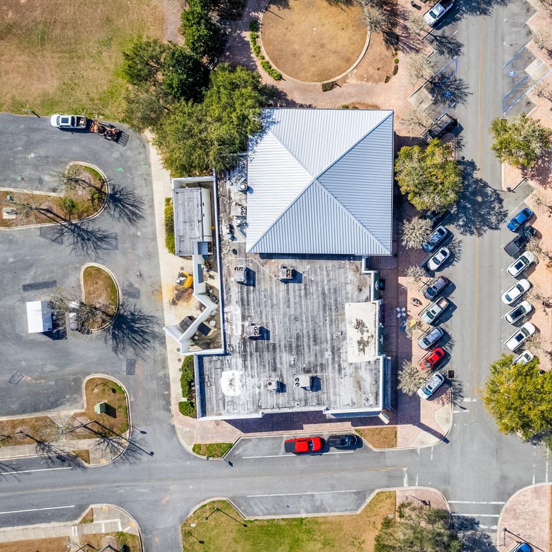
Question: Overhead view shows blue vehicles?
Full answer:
Yes, the picture does show a blue vehicle.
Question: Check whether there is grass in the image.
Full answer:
Yes, grass shows up in the scene.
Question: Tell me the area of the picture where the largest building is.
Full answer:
The largest building is located in the center region of the scene.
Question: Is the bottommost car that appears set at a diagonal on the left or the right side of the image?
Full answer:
The bottommost car that appears set at a diagonal sits on the right side.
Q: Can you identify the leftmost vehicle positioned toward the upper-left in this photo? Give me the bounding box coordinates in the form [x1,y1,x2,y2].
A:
[50,113,87,129]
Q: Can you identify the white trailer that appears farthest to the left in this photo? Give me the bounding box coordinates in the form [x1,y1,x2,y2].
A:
[27,292,54,333]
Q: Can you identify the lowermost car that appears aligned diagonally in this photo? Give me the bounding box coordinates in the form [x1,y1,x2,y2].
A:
[420,372,446,400]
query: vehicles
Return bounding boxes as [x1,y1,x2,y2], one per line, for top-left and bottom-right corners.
[505,323,534,352]
[326,434,361,449]
[420,296,452,326]
[50,113,87,129]
[421,346,446,371]
[420,204,447,229]
[512,543,532,552]
[417,325,446,351]
[69,301,84,332]
[422,274,450,301]
[421,112,459,145]
[507,251,534,278]
[284,437,324,454]
[426,246,453,273]
[420,372,446,400]
[505,227,534,258]
[507,207,533,232]
[505,300,531,326]
[423,226,449,253]
[502,279,531,305]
